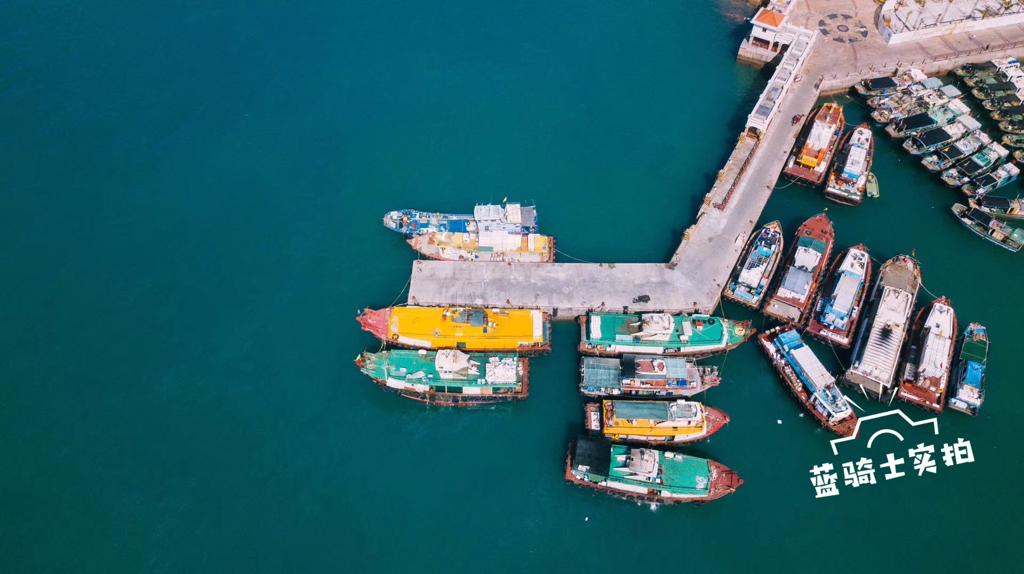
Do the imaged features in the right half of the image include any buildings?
Yes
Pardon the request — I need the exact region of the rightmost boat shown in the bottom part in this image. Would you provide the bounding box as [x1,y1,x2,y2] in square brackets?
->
[947,320,995,419]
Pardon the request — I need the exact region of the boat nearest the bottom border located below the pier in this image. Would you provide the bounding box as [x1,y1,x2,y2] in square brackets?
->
[561,436,746,509]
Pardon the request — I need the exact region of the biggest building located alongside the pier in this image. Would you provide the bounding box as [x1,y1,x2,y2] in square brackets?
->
[736,7,792,73]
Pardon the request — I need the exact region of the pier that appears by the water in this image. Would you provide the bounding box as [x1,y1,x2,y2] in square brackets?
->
[409,67,824,325]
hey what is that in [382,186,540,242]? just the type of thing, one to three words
boat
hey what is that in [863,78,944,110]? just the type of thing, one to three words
boat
